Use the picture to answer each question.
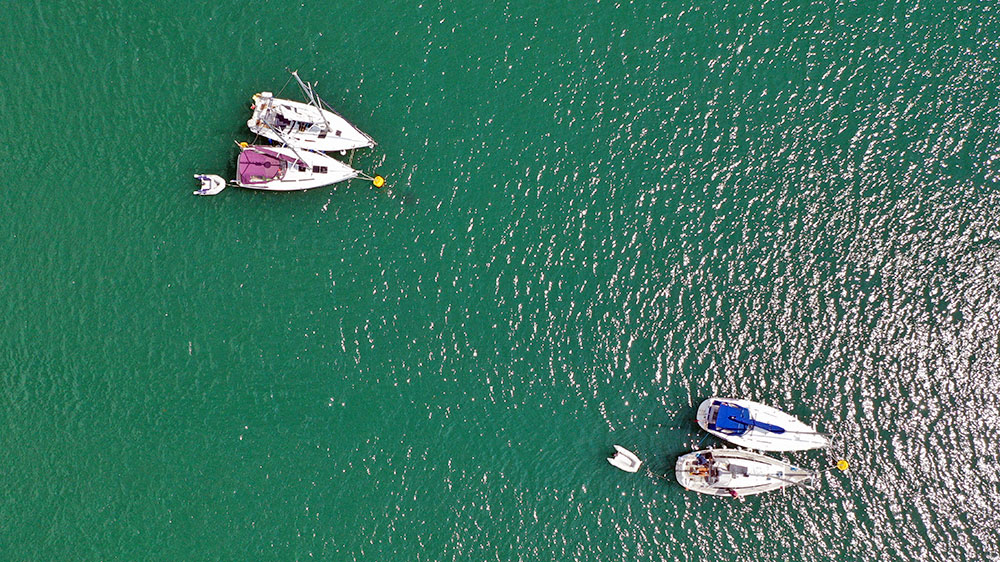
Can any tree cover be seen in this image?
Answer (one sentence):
No, there's no tree cover in this view.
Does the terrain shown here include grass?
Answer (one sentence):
No, there is no grass in the image.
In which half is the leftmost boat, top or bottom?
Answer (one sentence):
The leftmost boat is in the top half of the image.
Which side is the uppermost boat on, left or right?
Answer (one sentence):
The uppermost boat is on the left side of the image.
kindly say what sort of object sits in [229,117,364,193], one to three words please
boat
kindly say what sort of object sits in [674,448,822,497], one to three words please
boat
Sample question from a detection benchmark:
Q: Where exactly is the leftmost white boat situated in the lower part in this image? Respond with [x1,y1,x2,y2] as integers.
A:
[607,445,641,470]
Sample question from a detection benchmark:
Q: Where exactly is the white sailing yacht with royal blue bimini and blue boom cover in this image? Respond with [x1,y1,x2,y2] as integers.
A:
[695,398,839,452]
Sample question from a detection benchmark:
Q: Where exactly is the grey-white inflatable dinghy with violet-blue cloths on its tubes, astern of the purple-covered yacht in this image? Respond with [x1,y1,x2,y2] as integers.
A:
[194,175,227,195]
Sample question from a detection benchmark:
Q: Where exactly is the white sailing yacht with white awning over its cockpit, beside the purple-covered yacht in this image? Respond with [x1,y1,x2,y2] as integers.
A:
[250,70,377,151]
